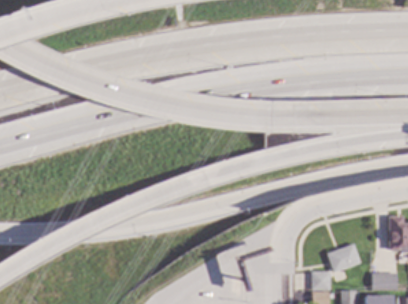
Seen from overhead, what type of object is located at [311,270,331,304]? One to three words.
building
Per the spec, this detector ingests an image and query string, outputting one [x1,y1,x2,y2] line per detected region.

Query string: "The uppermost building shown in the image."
[386,216,408,251]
